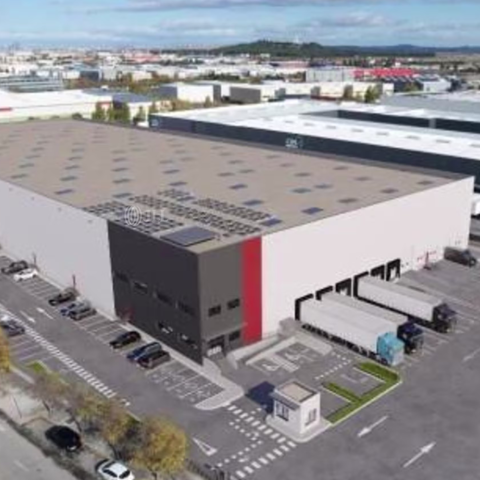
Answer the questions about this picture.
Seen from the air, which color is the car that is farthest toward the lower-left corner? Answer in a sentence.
The car that is farthest toward the lower-left corner looks black in the image.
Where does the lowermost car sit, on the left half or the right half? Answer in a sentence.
The lowermost car appears in the left half of the scene.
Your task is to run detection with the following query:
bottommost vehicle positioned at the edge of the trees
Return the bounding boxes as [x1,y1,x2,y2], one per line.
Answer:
[95,455,135,480]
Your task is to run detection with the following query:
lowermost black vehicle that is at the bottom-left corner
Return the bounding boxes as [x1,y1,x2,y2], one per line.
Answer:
[44,420,82,454]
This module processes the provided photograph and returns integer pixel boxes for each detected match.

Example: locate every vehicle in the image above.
[361,275,470,334]
[44,420,82,454]
[2,261,28,274]
[50,287,78,303]
[95,455,135,480]
[0,318,29,336]
[62,297,87,312]
[15,266,38,279]
[442,243,479,268]
[128,341,158,359]
[69,300,99,318]
[110,327,142,347]
[138,344,171,368]
[305,297,417,367]
[325,290,436,355]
